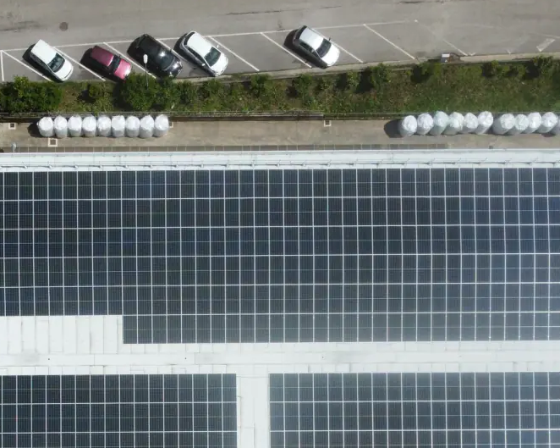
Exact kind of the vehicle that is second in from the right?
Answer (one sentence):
What you see as the vehicle that is second in from the right is a car.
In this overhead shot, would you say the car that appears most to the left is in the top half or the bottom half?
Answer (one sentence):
It is in the top half that the car that appears most to the left appears.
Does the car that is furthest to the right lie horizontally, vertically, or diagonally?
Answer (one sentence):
The car that is furthest to the right is laid out diagonally.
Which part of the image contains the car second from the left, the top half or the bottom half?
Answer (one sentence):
Seen from above, the car second from the left lies in the top half of the view.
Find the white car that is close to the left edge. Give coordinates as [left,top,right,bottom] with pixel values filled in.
[25,35,76,86]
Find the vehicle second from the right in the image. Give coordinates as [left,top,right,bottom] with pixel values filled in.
[177,30,228,80]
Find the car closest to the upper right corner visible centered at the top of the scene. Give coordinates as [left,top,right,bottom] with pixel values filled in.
[289,23,340,72]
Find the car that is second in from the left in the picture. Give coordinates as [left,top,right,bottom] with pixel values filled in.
[84,42,132,86]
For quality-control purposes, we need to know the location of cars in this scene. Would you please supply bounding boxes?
[25,35,76,86]
[289,23,340,72]
[84,42,132,86]
[128,31,182,80]
[177,30,228,80]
